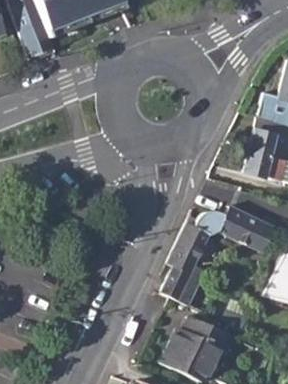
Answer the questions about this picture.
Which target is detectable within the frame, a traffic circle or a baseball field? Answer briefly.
traffic circle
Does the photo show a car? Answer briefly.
Yes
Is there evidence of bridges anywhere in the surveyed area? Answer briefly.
No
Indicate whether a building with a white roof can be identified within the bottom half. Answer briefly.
Yes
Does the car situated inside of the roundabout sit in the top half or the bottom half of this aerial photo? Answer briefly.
top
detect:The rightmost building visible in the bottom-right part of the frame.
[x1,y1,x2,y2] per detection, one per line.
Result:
[260,254,288,306]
